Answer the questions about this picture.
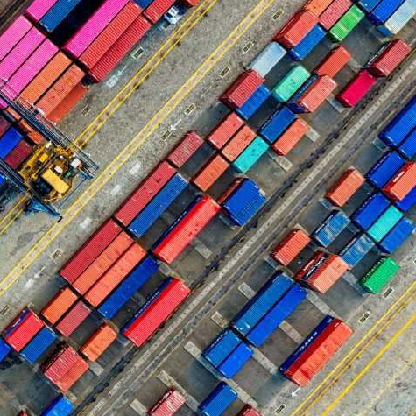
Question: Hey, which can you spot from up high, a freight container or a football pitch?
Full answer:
There is a freight container in the scene.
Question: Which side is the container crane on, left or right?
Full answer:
The container crane sits on the left side.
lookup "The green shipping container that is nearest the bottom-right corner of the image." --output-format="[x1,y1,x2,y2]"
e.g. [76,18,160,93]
[357,256,401,294]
